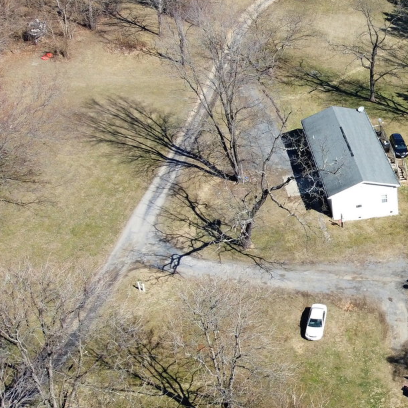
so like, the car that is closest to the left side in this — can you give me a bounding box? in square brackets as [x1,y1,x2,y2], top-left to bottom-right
[301,306,322,345]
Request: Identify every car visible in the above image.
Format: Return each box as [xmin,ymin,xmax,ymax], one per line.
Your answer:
[301,306,322,345]
[390,131,408,158]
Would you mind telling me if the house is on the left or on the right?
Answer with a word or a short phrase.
right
